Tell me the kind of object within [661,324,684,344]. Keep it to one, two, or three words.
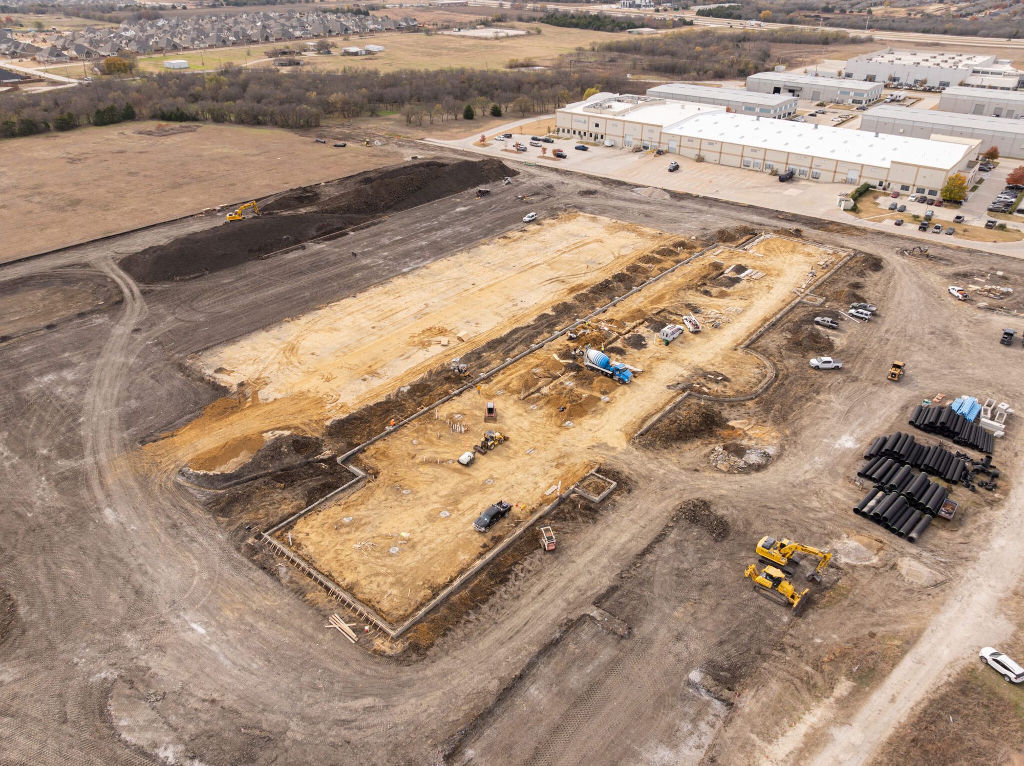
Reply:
vehicle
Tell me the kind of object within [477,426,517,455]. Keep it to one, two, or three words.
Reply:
work vehicle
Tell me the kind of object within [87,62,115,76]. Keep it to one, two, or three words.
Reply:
house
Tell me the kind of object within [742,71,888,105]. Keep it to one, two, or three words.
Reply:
building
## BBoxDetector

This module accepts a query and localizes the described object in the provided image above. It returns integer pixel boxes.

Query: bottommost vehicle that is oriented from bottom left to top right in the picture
[472,495,515,528]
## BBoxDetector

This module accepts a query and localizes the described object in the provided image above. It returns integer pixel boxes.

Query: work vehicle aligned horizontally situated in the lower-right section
[755,535,840,588]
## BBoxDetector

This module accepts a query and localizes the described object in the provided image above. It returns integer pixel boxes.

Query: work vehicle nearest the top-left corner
[223,191,264,223]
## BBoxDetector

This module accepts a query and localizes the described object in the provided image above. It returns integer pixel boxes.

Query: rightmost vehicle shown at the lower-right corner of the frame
[978,645,1024,685]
